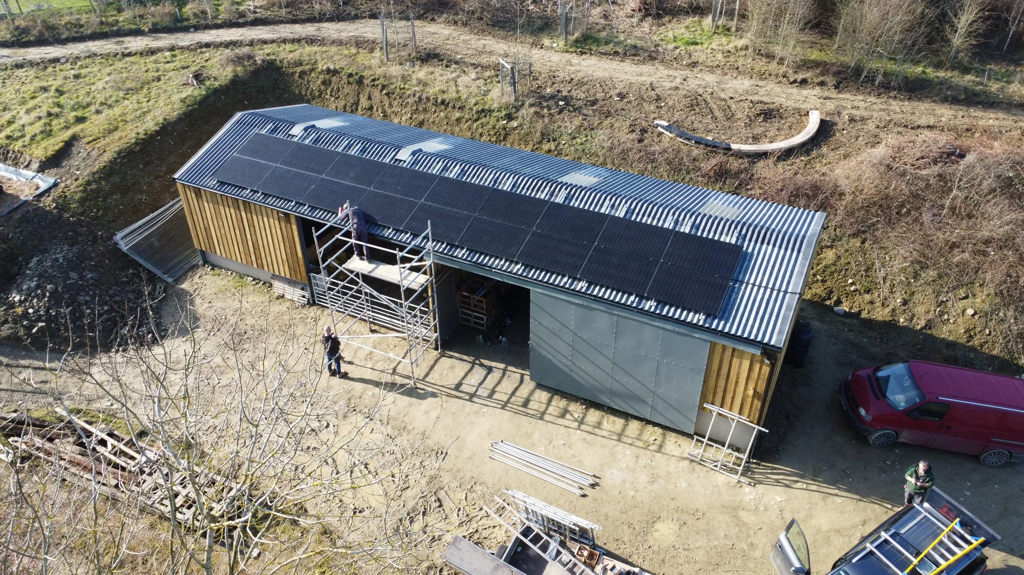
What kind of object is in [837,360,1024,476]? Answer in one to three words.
van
